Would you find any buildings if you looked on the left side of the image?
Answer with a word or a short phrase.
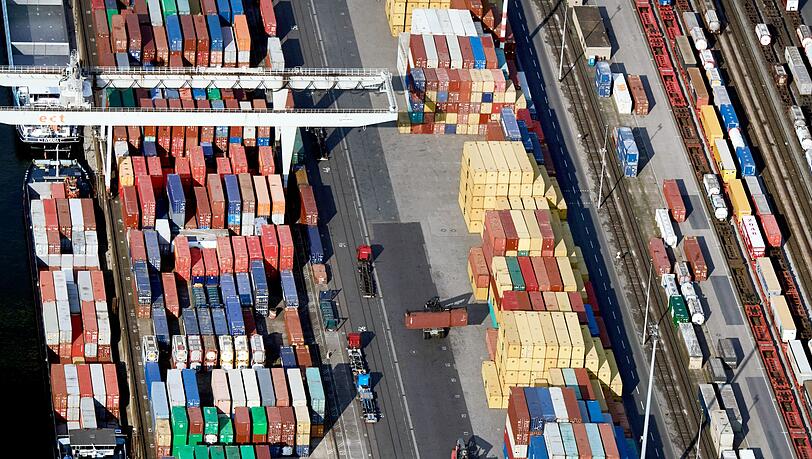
No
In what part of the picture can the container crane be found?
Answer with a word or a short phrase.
top left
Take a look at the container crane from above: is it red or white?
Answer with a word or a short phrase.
white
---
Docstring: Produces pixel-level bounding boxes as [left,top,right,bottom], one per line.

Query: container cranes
[0,48,399,193]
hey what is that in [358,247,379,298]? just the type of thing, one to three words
vehicle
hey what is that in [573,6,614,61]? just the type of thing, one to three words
building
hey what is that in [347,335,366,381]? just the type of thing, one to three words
vehicle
